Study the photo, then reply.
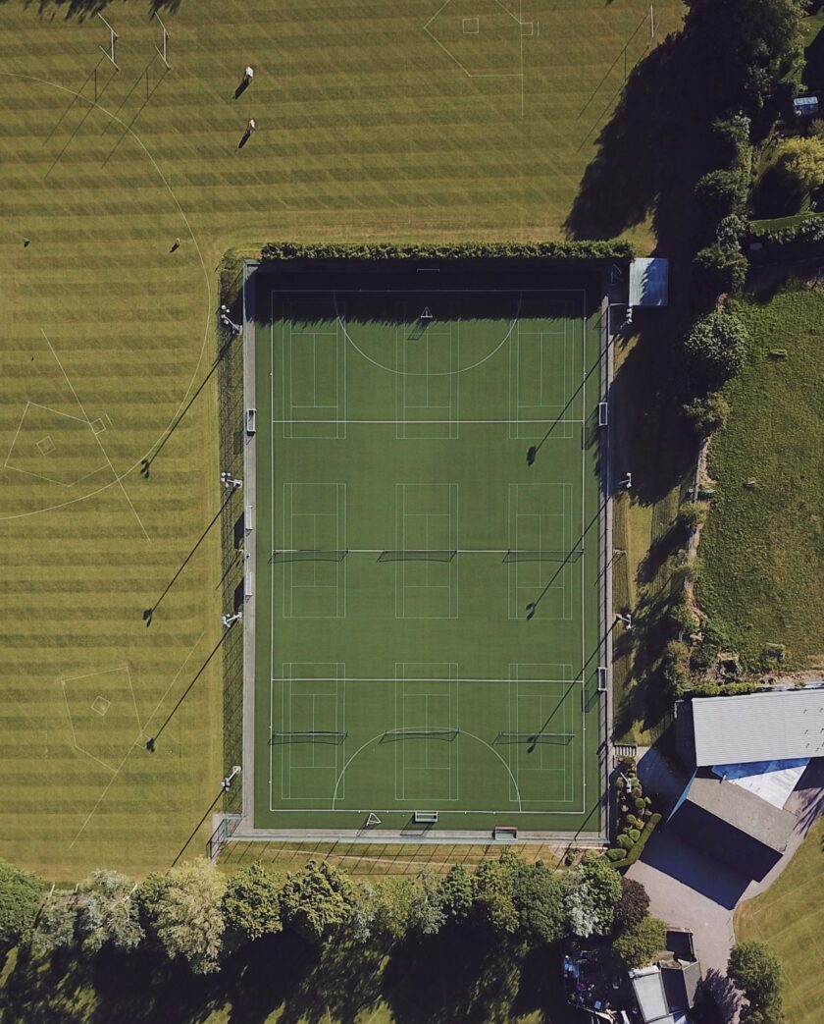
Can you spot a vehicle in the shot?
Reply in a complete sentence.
No, the frame has no vehicle in it.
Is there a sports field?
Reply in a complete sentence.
Yes, a sports field is visible in the scene.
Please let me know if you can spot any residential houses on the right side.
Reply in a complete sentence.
Yes, I can see a residential house on the right side.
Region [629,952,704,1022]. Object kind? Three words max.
house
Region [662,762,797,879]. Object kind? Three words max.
building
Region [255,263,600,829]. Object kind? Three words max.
sports field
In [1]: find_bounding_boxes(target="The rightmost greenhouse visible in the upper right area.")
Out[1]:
[792,92,822,114]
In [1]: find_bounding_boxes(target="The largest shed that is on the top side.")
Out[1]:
[627,259,668,308]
